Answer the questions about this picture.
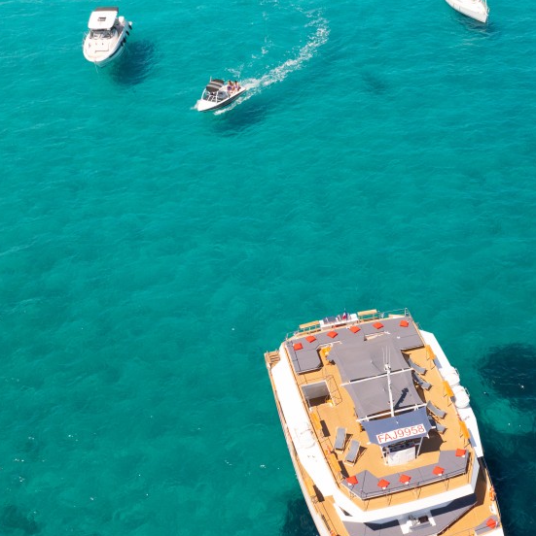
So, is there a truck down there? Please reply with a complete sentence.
No, I find no truck anywhere in the image.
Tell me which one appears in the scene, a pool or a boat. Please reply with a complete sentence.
It is a boat that can be seen here.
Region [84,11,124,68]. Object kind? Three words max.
boat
